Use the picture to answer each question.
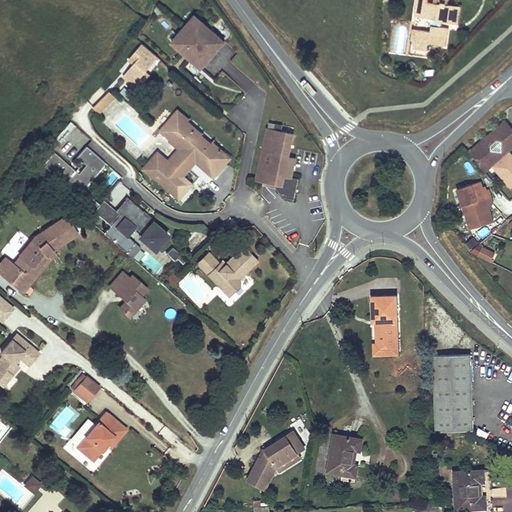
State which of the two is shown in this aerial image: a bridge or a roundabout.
roundabout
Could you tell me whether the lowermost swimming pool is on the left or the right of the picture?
left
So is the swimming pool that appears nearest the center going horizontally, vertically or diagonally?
horizontally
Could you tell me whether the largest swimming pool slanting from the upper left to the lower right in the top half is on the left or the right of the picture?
left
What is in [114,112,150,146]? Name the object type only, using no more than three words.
swimming pool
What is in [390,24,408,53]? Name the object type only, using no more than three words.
greenhouse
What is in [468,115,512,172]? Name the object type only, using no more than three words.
house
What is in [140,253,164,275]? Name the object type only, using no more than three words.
swimming pool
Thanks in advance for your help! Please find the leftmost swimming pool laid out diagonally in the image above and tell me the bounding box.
[0,470,34,510]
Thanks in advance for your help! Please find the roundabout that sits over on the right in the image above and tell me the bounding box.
[324,130,436,242]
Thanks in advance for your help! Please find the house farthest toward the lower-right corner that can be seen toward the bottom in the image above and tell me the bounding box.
[452,470,488,512]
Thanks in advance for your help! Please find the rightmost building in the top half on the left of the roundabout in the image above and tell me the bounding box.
[256,122,299,201]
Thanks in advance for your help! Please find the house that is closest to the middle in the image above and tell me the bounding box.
[198,252,261,298]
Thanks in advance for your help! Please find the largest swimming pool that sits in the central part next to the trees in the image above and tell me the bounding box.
[180,272,253,308]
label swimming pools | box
[50,405,80,438]
[0,470,34,510]
[464,161,476,176]
[106,172,119,186]
[0,419,10,444]
[140,253,164,275]
[164,308,176,320]
[114,112,150,146]
[476,226,490,240]
[180,272,253,308]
